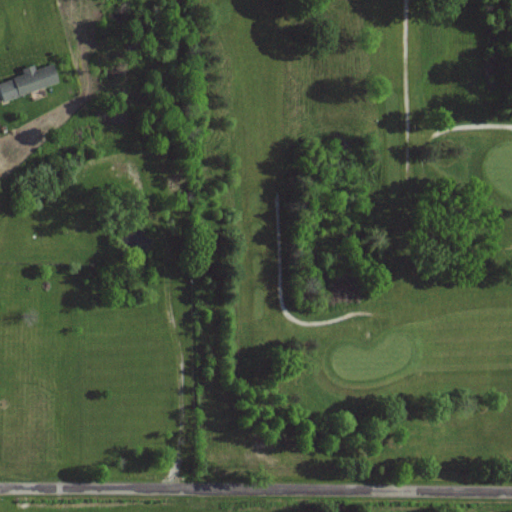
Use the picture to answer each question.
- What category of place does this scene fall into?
golf course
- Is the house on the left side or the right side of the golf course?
left of it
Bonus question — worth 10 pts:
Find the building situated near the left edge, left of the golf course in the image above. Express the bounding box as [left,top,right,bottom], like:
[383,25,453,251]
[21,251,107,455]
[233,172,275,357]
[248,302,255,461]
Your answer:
[0,64,60,103]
